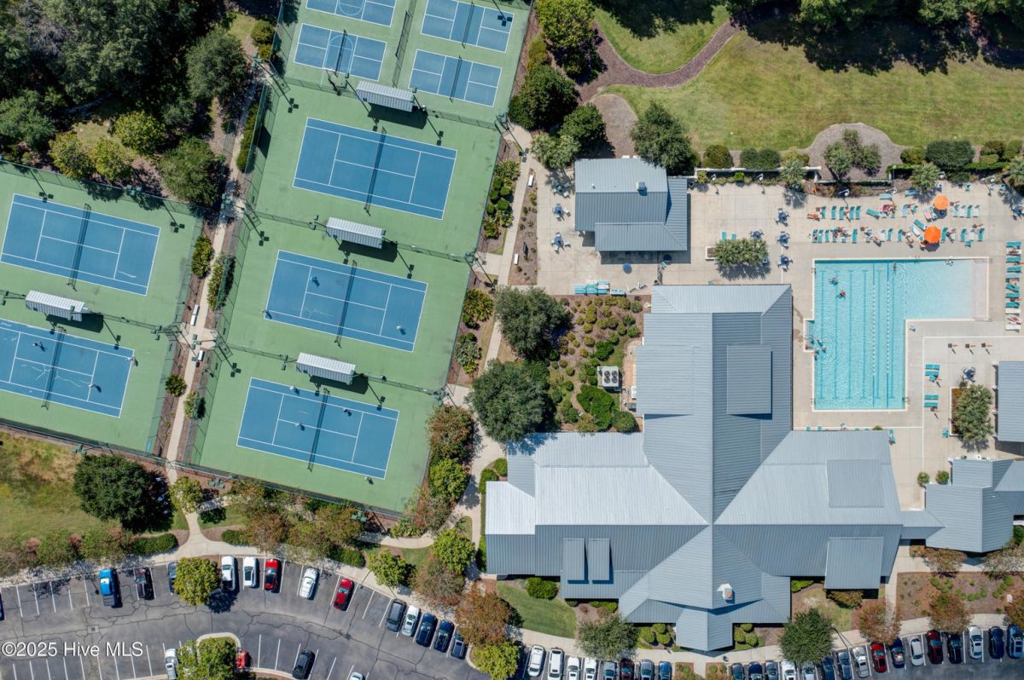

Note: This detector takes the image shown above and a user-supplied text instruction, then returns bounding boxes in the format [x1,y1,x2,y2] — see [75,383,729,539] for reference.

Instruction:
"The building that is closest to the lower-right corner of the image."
[913,457,1024,553]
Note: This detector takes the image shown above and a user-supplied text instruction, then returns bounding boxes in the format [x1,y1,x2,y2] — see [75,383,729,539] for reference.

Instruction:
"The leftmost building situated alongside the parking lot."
[486,285,903,652]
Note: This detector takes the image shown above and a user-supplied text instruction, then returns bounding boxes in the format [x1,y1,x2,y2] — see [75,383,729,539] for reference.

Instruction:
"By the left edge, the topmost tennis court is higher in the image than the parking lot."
[0,161,210,332]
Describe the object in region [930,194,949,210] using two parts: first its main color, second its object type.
orange umbrella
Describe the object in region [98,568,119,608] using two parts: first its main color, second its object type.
blue truck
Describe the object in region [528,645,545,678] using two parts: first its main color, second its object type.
white car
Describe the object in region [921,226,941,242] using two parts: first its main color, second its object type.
orange umbrella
